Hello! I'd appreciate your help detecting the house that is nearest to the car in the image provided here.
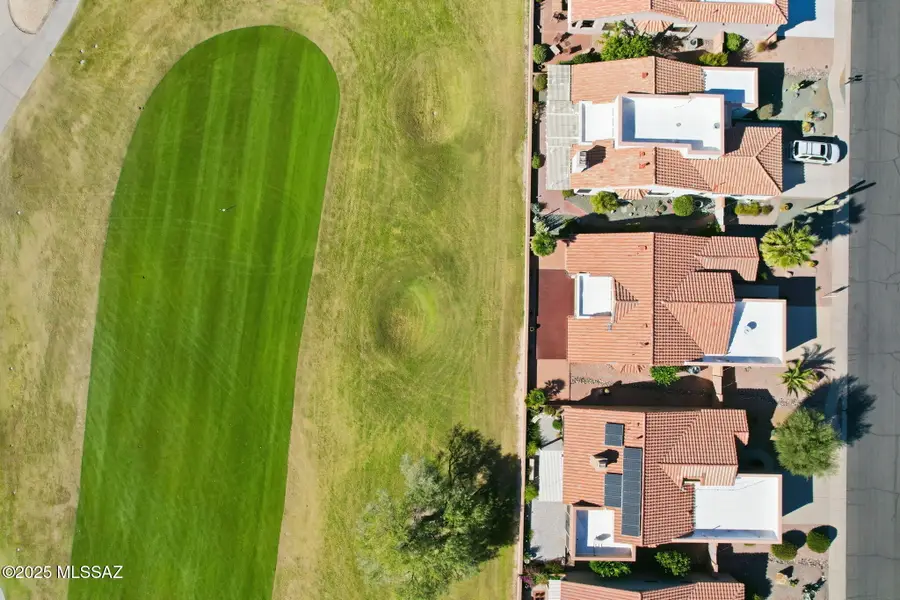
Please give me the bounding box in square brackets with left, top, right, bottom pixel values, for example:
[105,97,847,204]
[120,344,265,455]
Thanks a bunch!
[567,57,786,200]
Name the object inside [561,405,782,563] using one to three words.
house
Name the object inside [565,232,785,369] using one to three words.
house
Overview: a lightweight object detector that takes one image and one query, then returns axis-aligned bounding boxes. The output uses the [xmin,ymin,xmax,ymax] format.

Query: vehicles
[787,139,838,163]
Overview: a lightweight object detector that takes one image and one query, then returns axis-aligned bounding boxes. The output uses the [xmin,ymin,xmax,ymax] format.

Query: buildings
[565,232,785,369]
[561,405,782,563]
[559,572,748,600]
[568,0,790,34]
[567,57,786,200]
